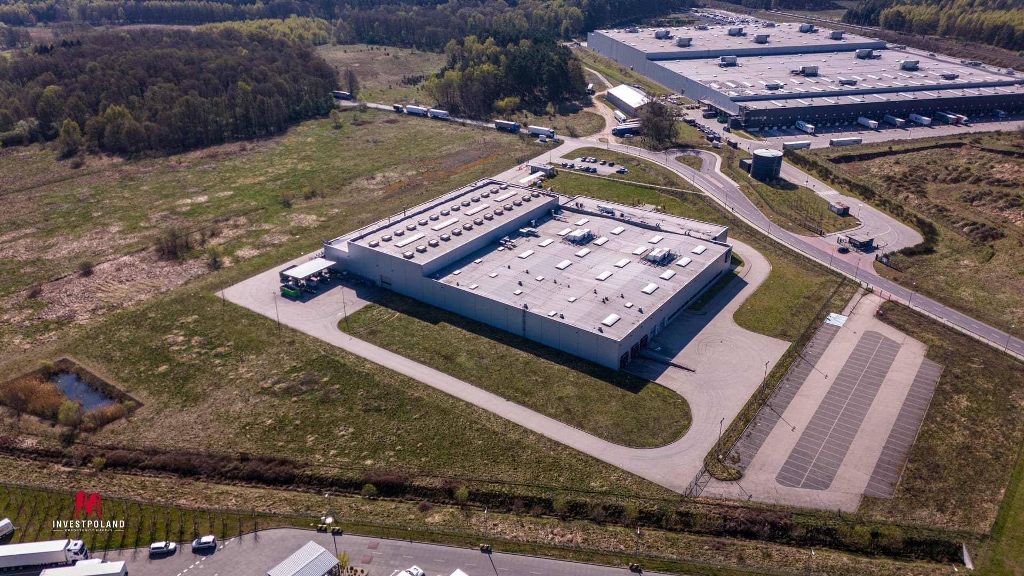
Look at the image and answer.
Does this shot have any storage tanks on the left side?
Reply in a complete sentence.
No, there's no storage tank to be seen on the left side.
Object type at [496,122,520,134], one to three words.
vehicle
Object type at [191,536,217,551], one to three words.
car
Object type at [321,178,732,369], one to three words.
building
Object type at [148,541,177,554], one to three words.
vehicle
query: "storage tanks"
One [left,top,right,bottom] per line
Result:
[745,146,785,185]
